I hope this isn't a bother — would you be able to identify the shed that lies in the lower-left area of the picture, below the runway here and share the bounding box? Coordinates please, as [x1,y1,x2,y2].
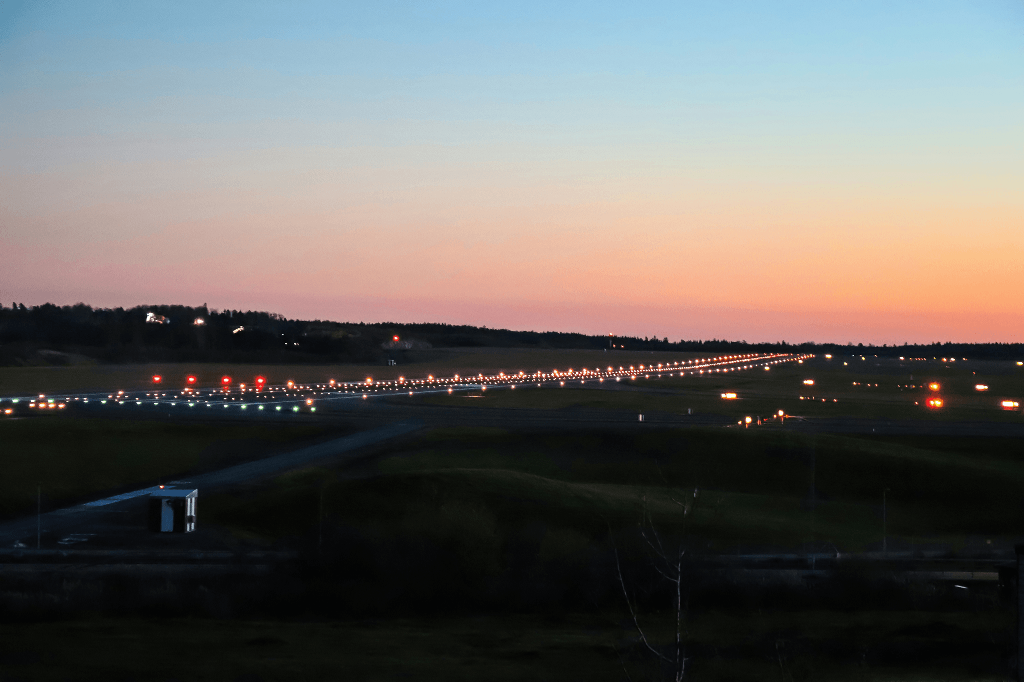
[149,485,195,531]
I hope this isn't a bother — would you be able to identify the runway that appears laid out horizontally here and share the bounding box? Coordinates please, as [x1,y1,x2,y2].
[0,354,815,422]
